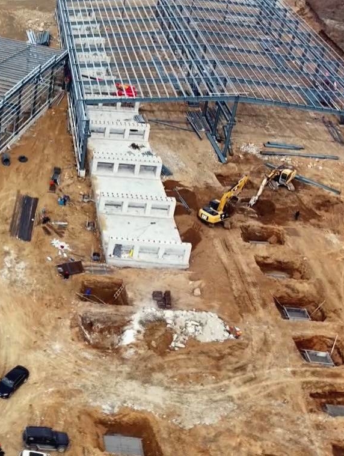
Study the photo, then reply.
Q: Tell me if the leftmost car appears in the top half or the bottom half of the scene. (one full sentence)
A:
Seen from above, the leftmost car lies in the bottom half of the view.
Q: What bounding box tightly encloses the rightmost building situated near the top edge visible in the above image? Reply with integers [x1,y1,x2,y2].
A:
[54,0,344,171]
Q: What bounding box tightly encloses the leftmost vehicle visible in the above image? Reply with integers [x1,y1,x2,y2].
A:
[0,364,30,400]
